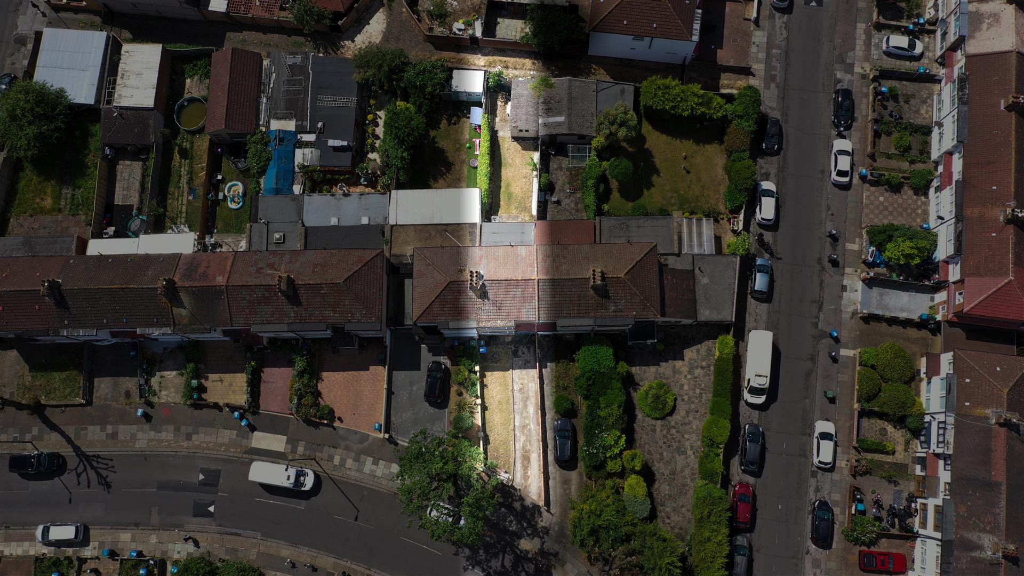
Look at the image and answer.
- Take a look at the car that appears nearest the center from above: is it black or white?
black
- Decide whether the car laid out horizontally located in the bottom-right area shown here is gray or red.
red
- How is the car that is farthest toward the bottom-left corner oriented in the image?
horizontally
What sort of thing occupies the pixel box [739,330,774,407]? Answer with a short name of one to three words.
van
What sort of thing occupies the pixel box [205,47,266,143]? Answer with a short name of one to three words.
shed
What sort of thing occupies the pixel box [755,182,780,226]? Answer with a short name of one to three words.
car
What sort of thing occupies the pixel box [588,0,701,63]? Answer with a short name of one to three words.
house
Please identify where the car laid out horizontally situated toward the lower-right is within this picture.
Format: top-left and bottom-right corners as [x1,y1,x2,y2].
[857,551,907,576]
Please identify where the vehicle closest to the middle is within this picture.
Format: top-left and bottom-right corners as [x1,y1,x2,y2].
[425,361,449,406]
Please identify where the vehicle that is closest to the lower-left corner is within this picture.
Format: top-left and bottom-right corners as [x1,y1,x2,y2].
[34,521,88,548]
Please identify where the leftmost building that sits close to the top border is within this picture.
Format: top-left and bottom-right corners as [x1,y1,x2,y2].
[33,28,120,115]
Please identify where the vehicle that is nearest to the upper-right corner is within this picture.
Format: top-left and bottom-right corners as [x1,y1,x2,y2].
[882,34,922,58]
